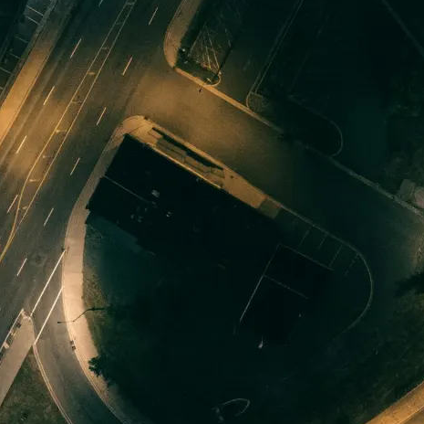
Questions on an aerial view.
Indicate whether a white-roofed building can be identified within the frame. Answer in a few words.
No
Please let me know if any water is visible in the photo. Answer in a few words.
No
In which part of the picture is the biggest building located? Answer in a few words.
center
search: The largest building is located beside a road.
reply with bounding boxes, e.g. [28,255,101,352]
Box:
[87,134,262,267]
